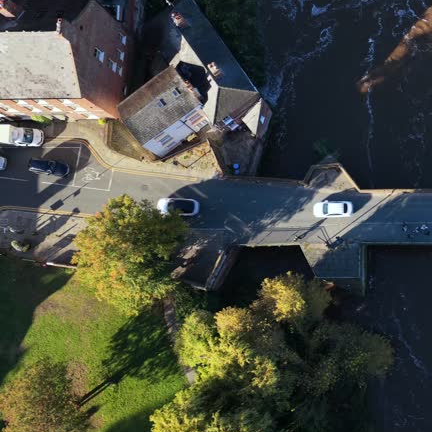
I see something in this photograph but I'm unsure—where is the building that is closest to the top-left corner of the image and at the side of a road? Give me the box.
[0,0,132,122]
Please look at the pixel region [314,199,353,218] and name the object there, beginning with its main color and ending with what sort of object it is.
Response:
white car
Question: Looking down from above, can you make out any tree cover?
Yes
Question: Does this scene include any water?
Yes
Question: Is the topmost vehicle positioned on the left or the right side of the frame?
left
